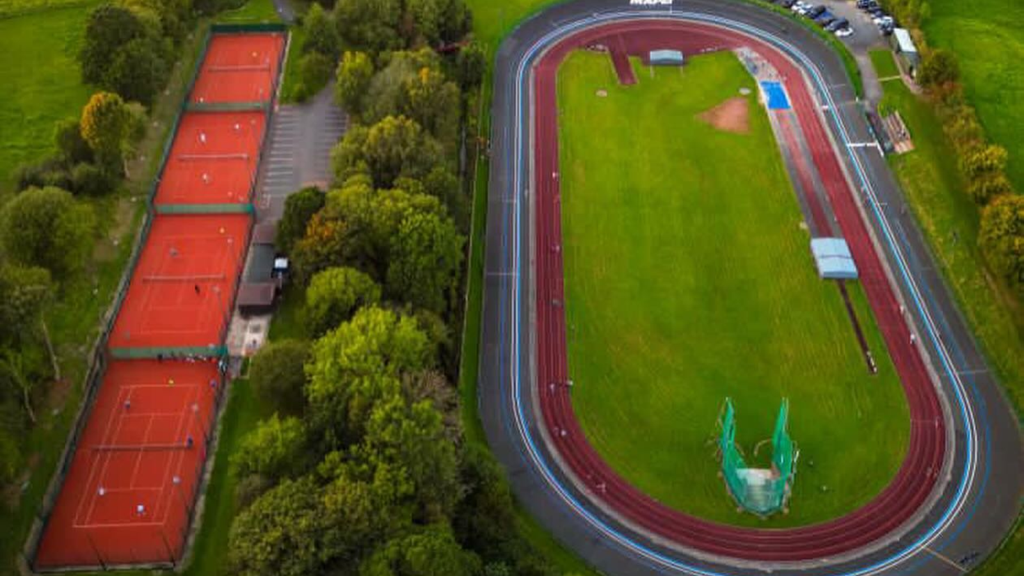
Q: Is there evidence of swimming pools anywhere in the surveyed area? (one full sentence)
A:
No, no swimming pool is visible in the view.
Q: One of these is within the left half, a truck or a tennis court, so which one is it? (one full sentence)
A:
There is a tennis court within the left half.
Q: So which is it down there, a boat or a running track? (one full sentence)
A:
Looking from above, you can make out a running track.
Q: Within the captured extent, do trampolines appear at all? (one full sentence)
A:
No, the frame has no trampoline in it.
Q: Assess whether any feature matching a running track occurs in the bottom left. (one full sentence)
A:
No, in the bottom left there is no running track.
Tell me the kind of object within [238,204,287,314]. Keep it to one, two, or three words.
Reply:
building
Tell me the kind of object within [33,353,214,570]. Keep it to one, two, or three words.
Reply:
tennis court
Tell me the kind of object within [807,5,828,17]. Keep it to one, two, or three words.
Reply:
vehicle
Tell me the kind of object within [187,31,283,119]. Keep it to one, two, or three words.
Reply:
tennis court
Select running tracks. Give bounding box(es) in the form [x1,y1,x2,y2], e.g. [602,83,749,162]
[533,17,947,561]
